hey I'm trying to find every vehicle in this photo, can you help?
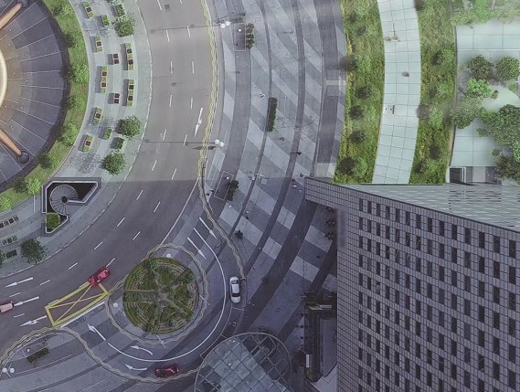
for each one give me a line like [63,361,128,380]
[88,266,111,285]
[154,362,178,376]
[0,301,15,313]
[229,275,240,302]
